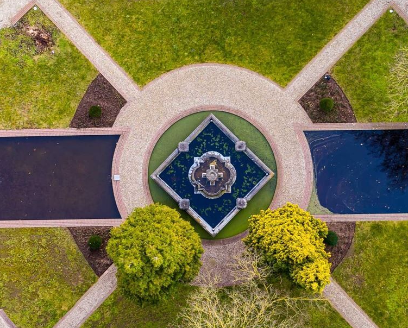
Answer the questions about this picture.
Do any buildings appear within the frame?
No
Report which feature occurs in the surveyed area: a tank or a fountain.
fountain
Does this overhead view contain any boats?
No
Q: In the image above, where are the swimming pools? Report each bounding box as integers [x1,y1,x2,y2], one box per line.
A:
[0,128,130,227]
[295,123,408,220]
